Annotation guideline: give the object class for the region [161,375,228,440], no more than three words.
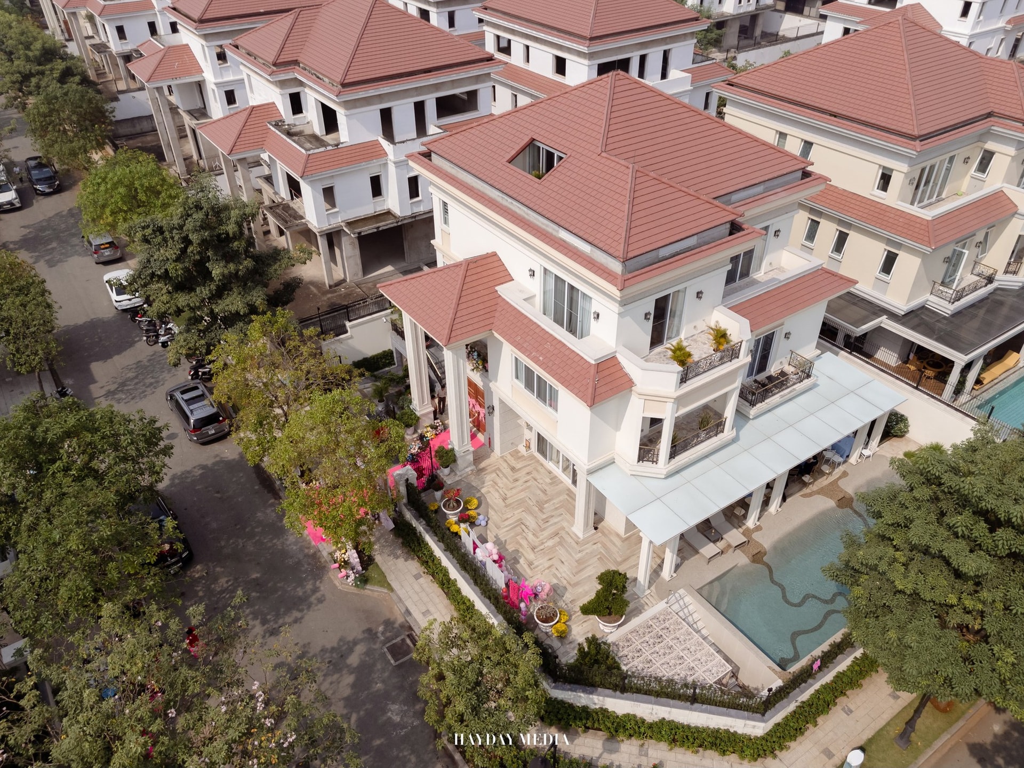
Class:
car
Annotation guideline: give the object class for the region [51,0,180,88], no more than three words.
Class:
house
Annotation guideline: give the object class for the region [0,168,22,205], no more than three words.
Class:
car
